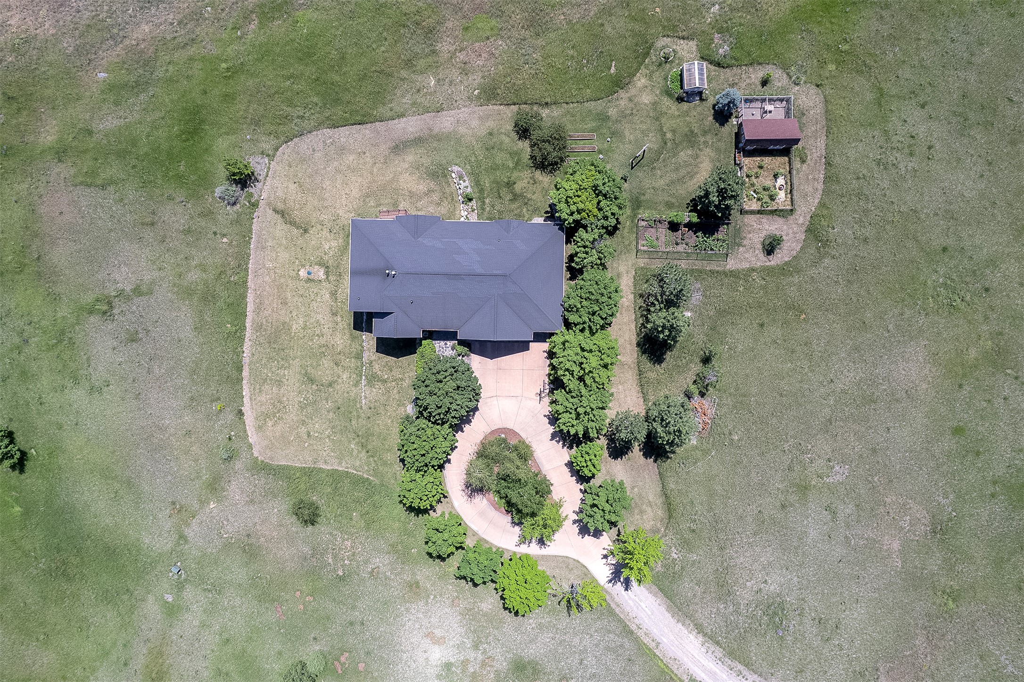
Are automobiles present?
No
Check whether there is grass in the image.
Yes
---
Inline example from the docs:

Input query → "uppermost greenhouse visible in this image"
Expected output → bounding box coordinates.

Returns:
[681,61,707,94]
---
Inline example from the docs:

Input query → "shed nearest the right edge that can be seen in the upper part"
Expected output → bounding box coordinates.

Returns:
[739,119,801,149]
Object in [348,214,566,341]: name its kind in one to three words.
house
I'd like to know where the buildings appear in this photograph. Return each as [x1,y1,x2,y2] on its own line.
[681,61,707,94]
[348,214,566,341]
[739,119,801,149]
